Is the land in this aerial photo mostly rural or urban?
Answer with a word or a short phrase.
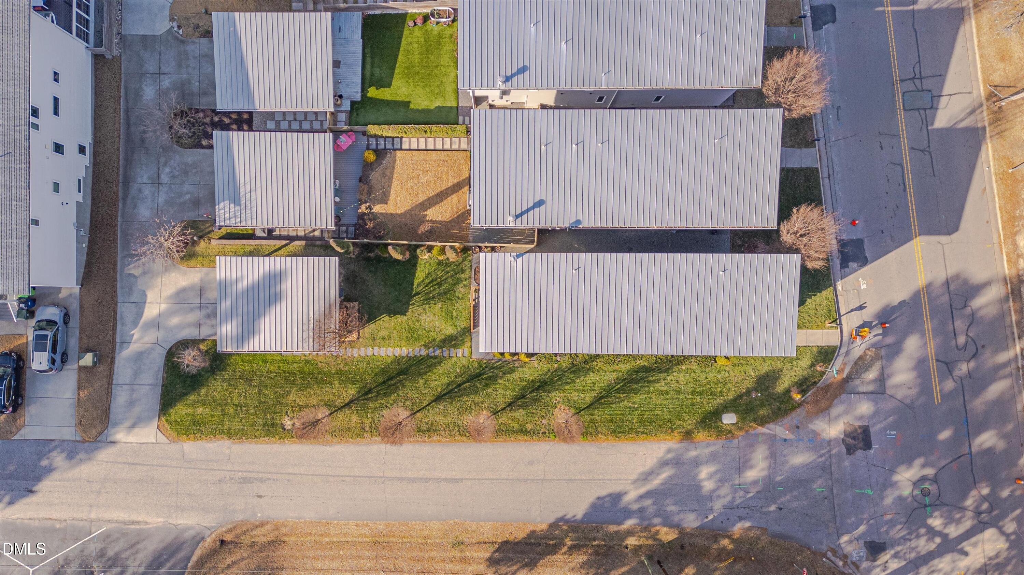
urban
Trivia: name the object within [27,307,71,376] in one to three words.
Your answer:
car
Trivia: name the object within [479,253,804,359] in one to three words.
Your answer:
house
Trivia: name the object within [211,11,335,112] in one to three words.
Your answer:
building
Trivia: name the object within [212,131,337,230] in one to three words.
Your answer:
building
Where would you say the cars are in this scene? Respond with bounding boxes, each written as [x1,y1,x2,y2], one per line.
[0,351,22,422]
[27,307,71,376]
